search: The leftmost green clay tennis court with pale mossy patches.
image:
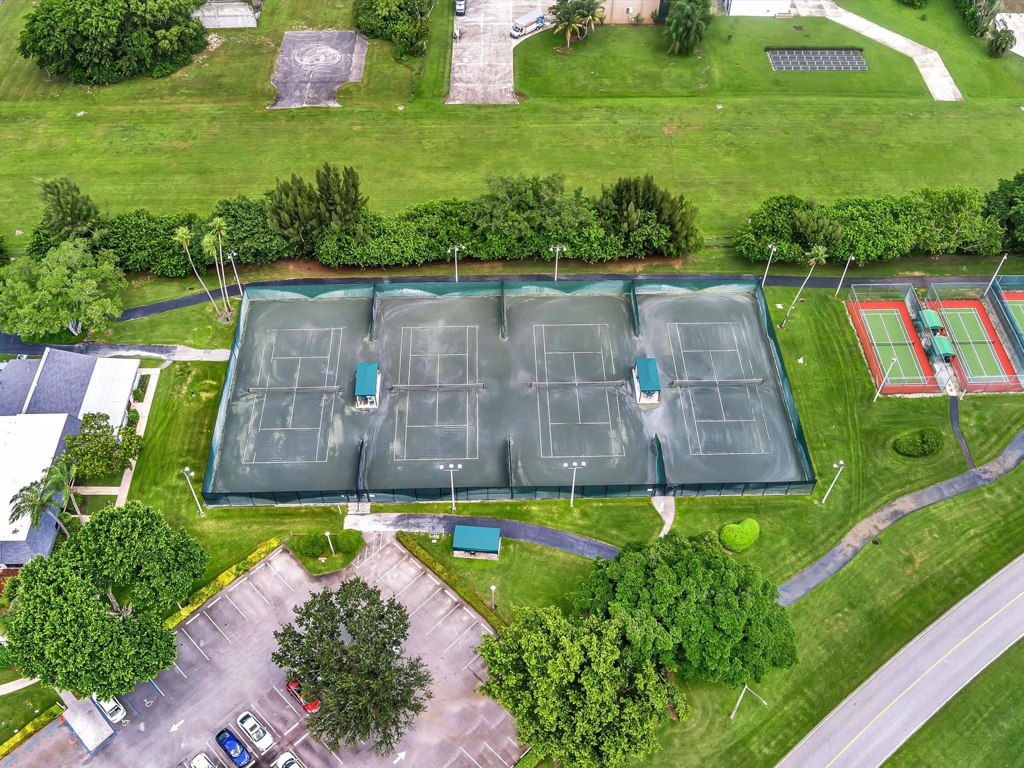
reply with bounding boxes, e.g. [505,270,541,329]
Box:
[210,298,376,506]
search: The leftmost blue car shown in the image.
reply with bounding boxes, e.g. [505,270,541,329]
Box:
[217,727,253,768]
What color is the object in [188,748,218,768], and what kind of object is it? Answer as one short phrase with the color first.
white car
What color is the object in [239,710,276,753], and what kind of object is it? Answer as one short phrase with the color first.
white car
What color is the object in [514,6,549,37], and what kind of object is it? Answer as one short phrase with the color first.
white truck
